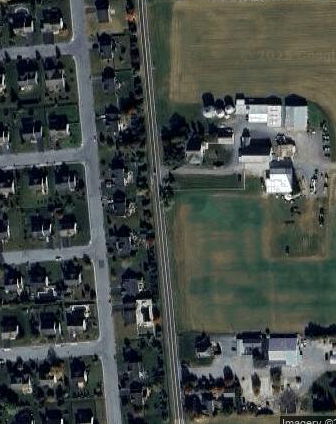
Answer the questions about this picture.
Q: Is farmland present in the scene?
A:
Yes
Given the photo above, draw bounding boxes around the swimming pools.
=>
[138,301,152,320]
